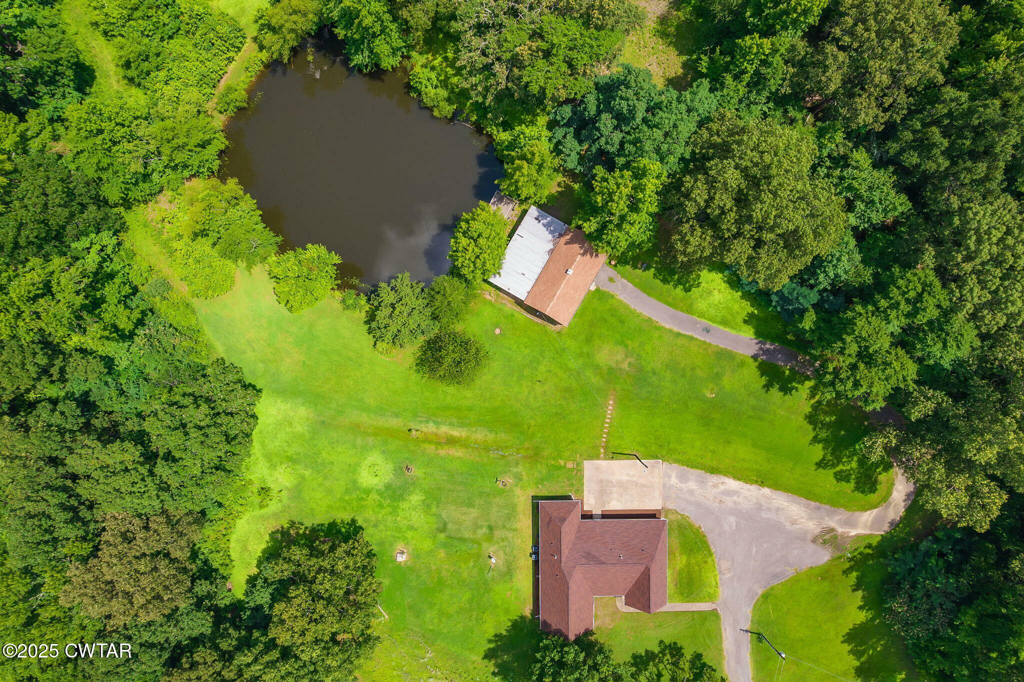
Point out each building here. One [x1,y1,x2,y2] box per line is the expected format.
[533,489,668,641]
[488,206,611,327]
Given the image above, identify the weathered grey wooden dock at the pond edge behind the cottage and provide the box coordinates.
[487,189,516,218]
